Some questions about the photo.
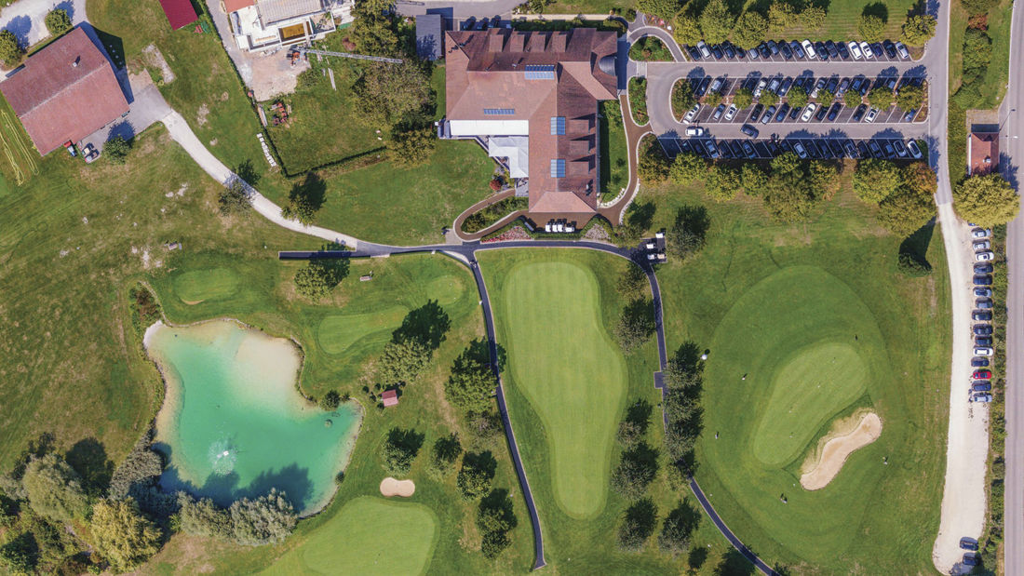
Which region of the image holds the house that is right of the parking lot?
top right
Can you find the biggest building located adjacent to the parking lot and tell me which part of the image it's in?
top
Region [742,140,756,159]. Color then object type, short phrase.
blue car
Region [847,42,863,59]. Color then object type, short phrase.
white car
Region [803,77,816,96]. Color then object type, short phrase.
black vehicle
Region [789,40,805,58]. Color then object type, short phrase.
blue car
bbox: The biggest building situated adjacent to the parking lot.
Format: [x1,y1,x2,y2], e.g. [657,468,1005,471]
[445,28,616,212]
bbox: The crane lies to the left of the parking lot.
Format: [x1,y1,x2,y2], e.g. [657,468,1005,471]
[289,45,403,68]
